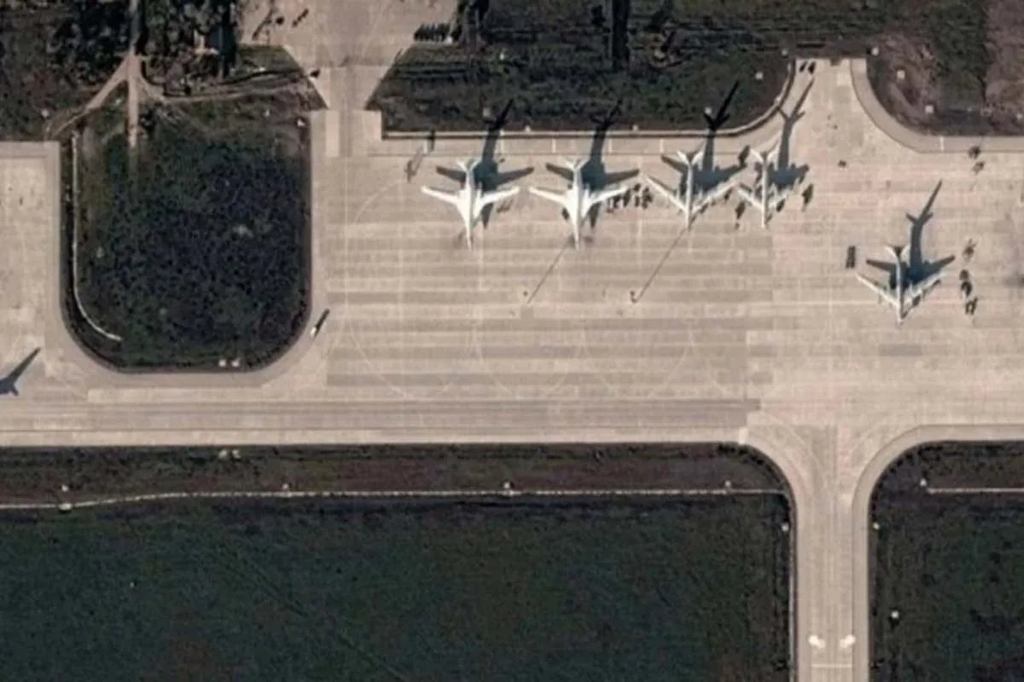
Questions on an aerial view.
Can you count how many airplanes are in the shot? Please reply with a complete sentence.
The number of airplanes here is 5.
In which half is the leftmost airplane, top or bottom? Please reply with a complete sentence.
You can find the leftmost airplane in the top half.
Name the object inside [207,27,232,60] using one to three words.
shed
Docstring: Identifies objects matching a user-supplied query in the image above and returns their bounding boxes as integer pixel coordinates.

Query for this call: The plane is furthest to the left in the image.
[423,157,518,249]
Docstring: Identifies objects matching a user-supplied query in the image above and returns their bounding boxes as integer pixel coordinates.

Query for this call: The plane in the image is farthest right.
[857,243,942,324]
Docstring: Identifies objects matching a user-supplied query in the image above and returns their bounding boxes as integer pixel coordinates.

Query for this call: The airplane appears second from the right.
[738,149,790,227]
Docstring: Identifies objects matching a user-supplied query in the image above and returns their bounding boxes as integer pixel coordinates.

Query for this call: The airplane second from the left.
[531,158,626,248]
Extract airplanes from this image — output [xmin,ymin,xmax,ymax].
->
[738,149,790,227]
[857,243,942,324]
[531,158,626,248]
[423,157,518,249]
[646,150,731,230]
